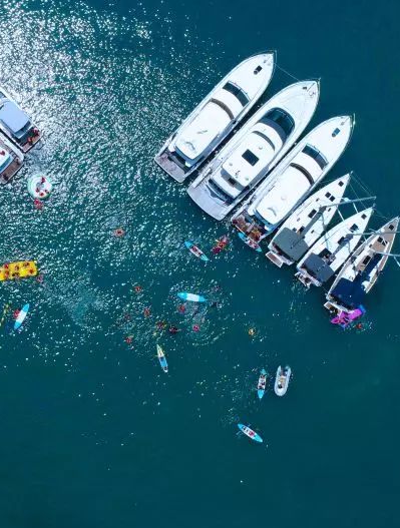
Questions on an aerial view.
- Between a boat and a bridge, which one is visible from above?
boat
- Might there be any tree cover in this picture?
No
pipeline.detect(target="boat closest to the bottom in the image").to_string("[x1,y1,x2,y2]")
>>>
[237,425,262,442]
